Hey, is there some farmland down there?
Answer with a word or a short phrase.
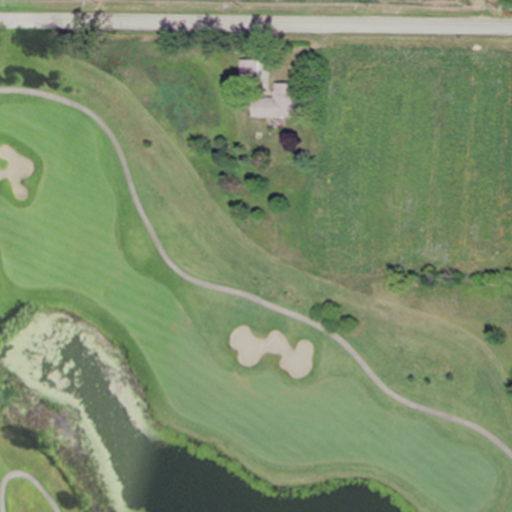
Yes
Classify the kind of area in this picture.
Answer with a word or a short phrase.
golf course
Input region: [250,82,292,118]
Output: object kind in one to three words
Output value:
house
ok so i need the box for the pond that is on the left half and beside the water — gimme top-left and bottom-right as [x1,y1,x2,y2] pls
[2,312,393,512]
